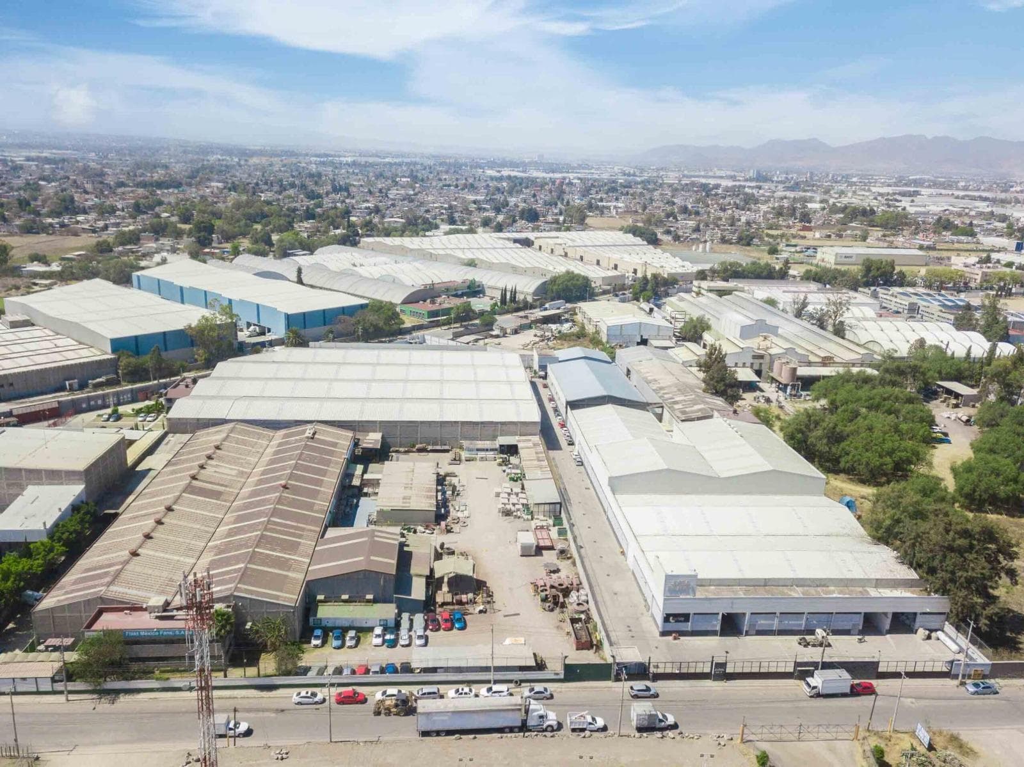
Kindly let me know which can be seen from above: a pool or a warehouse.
warehouse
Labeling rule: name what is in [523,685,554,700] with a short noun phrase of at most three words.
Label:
car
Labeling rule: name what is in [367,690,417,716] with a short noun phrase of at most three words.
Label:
work vehicle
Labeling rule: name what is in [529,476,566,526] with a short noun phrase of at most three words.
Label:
shed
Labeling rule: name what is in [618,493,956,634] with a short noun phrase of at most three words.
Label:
warehouse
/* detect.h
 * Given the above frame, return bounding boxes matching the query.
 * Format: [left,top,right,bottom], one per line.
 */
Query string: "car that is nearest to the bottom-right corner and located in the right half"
[966,680,999,695]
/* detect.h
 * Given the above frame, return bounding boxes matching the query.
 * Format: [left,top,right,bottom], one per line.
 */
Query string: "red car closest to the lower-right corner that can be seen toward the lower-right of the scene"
[850,681,881,695]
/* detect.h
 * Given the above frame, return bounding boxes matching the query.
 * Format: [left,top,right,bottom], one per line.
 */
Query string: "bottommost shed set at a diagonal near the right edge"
[934,381,979,409]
